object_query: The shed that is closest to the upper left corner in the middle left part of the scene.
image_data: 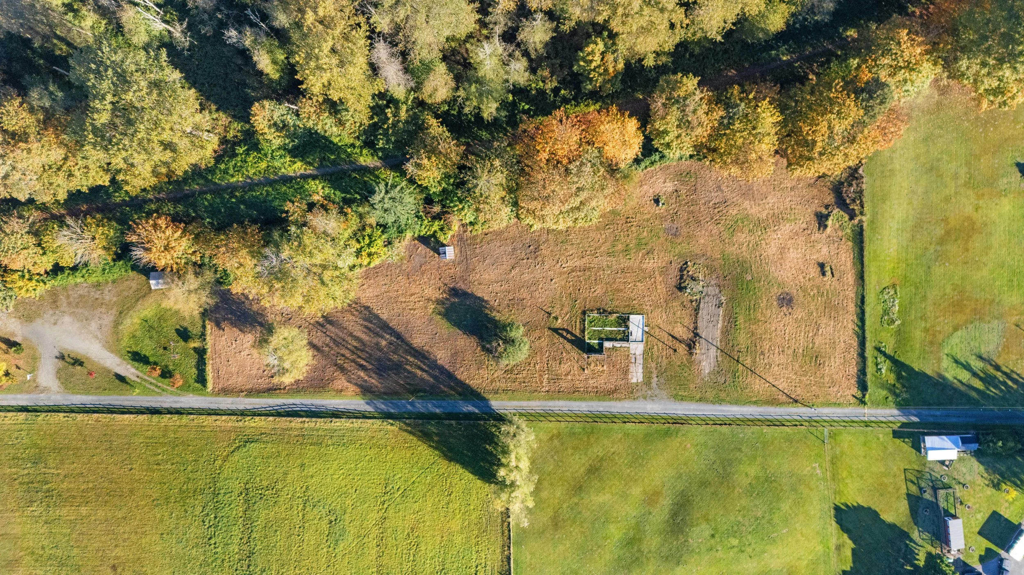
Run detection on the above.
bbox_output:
[148,272,173,289]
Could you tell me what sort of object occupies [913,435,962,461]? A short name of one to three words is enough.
shed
